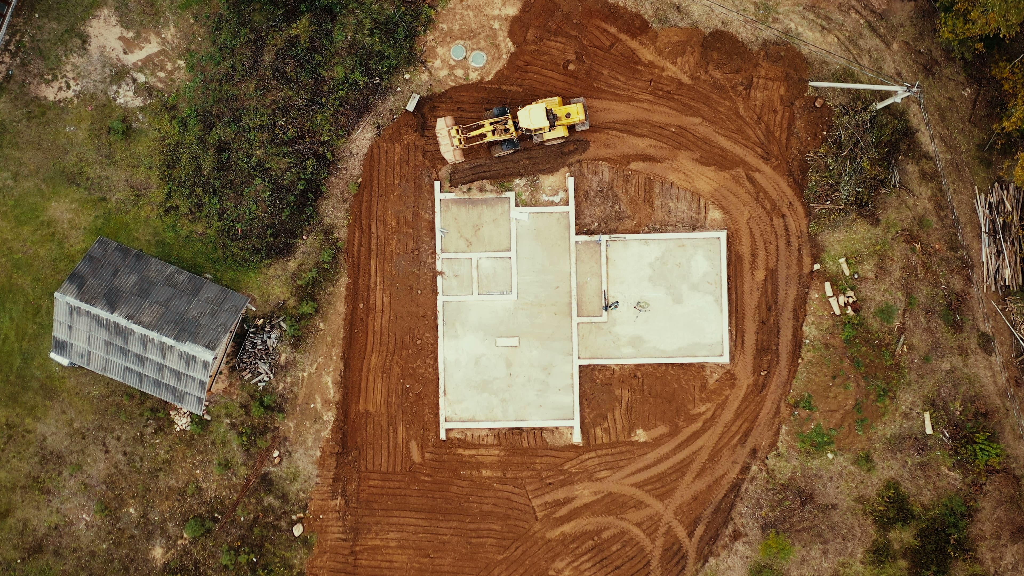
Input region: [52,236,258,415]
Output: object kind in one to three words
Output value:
shed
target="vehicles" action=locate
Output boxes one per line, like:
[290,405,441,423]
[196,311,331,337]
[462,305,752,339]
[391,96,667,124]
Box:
[436,96,589,165]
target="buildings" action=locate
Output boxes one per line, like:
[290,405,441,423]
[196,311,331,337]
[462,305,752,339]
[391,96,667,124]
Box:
[0,0,17,44]
[52,236,258,415]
